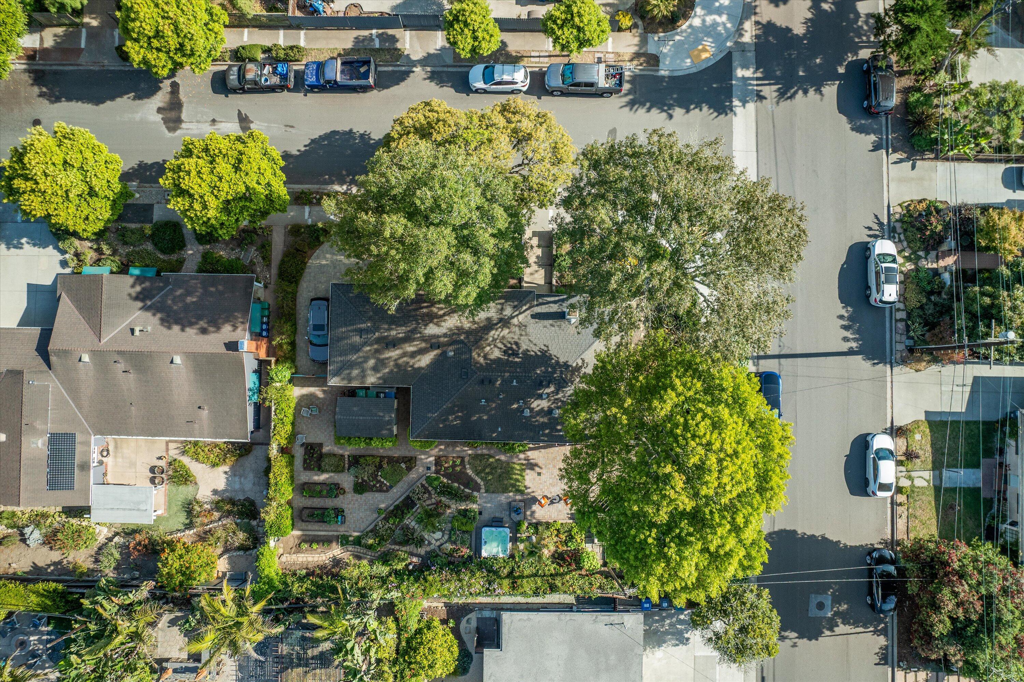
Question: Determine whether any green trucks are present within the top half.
No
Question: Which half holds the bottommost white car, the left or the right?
right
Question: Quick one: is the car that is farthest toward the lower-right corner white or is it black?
black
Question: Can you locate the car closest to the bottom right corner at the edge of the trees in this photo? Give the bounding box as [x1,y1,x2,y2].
[868,549,900,616]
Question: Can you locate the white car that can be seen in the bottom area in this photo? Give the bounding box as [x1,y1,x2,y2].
[867,434,902,498]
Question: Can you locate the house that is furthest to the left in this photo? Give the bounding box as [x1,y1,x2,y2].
[0,272,267,507]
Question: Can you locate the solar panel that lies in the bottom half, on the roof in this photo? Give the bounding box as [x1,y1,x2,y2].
[45,433,77,490]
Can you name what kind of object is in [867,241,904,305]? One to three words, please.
car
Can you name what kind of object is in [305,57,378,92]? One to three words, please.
truck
